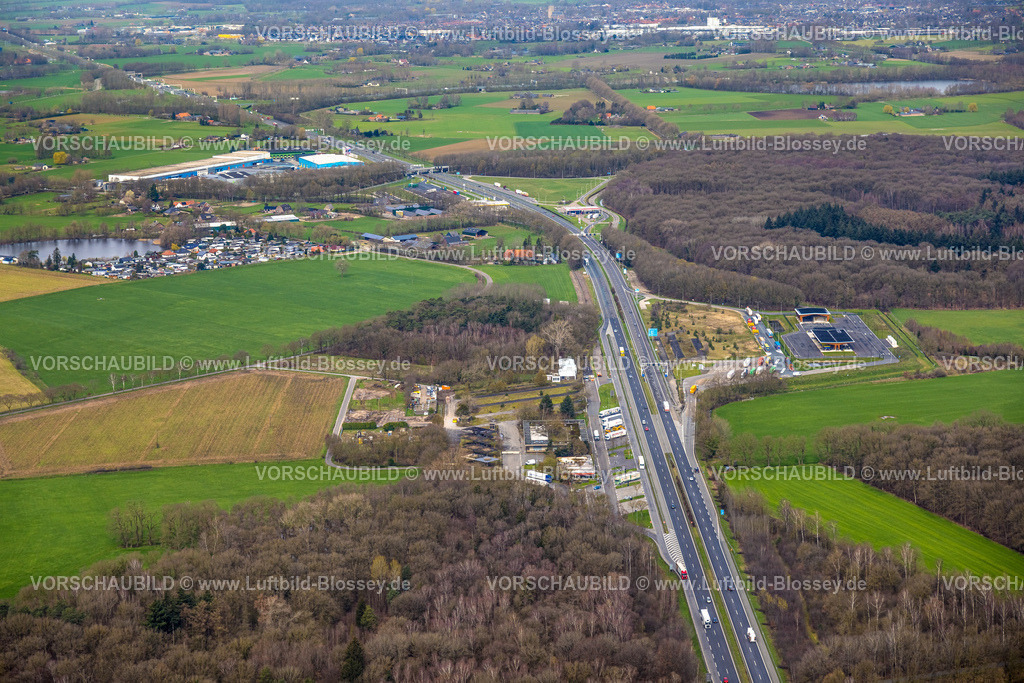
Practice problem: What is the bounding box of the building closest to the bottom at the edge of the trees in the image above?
[556,456,595,482]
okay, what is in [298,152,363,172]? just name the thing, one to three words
building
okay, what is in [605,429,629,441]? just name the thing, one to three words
vehicle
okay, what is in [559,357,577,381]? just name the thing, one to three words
building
